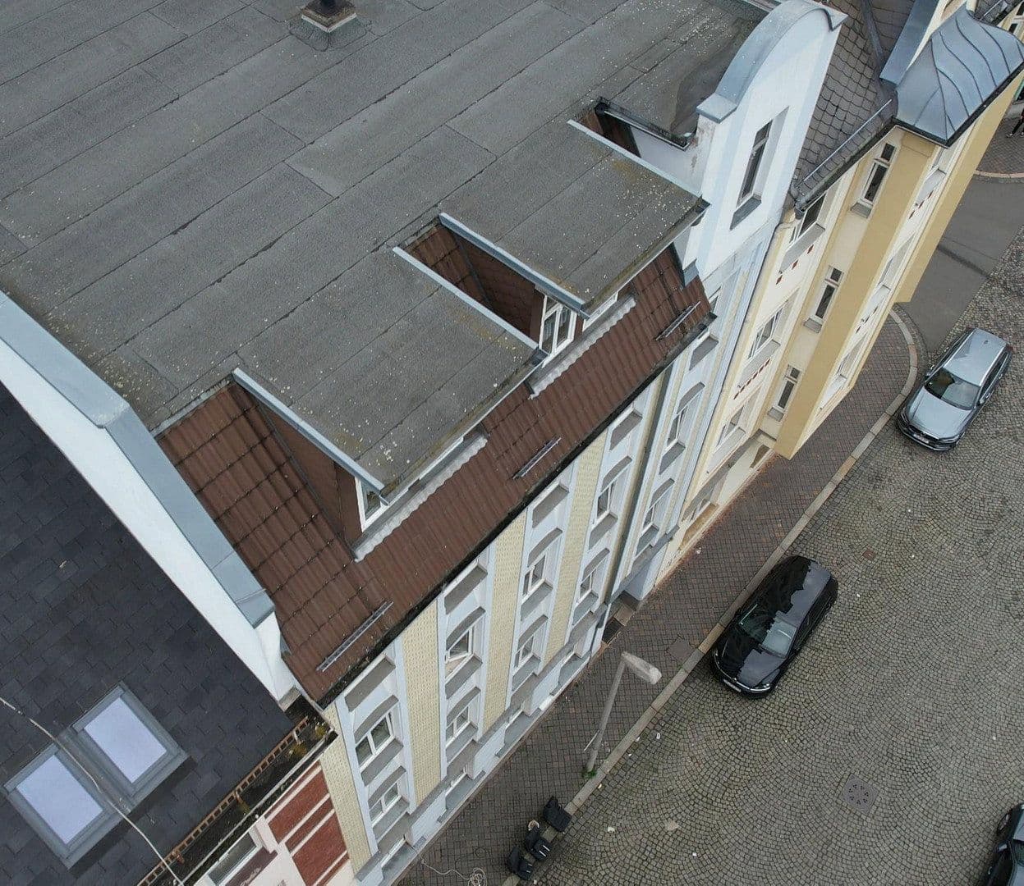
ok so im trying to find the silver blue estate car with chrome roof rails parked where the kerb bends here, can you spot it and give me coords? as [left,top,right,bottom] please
[901,333,1017,457]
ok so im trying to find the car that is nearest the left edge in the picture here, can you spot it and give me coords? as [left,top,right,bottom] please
[713,560,841,702]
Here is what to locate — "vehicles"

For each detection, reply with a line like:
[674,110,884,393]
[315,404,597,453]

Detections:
[973,813,1024,886]
[901,333,1017,457]
[713,560,841,702]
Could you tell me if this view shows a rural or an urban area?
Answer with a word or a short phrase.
urban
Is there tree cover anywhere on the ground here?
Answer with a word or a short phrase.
No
